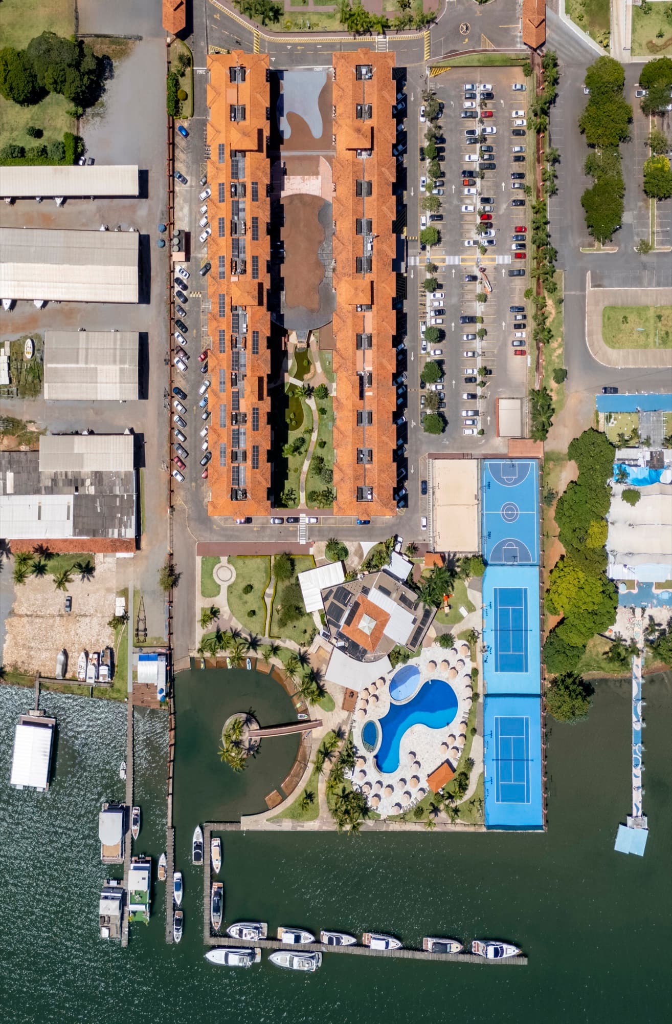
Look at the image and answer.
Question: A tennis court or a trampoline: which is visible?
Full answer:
Visible in the photo is a tennis court.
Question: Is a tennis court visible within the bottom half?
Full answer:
Yes, a tennis court can be seen within the bottom half.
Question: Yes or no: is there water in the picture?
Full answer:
Yes, the picture does contain water.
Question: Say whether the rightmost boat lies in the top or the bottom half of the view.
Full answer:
The bottom half of the photo is where the rightmost boat is.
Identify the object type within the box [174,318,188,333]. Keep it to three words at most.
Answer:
car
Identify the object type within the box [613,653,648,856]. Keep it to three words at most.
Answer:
pier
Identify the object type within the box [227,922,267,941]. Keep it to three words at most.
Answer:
boat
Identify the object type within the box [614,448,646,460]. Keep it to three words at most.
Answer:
building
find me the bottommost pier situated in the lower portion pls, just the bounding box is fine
[210,936,528,964]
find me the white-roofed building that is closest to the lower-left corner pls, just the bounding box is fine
[10,709,60,790]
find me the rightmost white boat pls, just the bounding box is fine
[471,939,522,959]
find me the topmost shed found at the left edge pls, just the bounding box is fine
[0,165,141,201]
